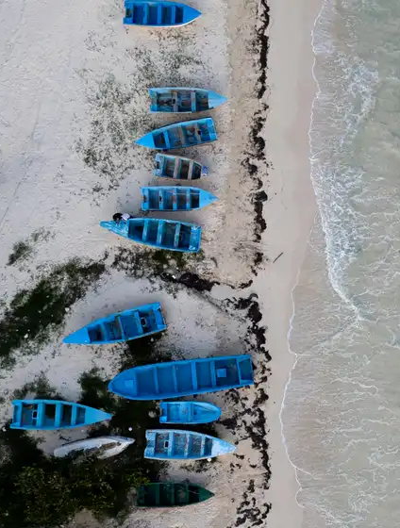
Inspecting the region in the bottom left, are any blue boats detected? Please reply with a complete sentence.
Yes, a blue boat shows up in the bottom left.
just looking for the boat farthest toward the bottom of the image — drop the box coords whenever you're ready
[137,482,215,508]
